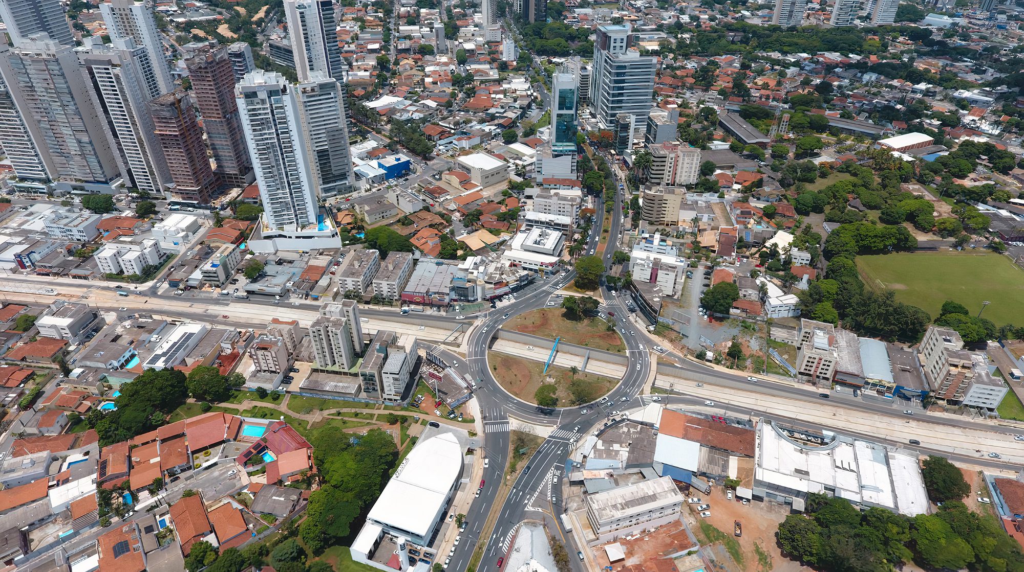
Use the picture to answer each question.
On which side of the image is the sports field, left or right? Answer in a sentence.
The sports field sits on the right side.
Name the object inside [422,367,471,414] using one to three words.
building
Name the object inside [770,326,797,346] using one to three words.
building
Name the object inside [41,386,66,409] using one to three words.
house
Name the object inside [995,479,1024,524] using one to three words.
house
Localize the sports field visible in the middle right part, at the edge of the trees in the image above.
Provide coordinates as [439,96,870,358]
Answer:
[857,252,1024,328]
